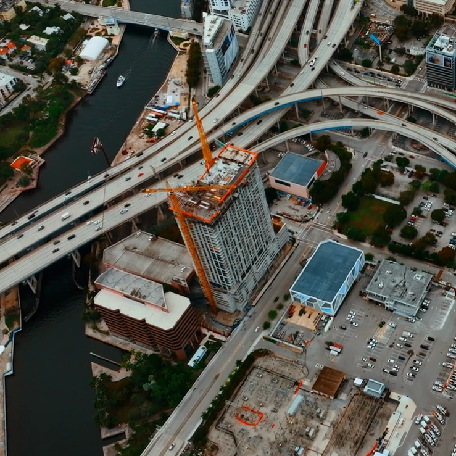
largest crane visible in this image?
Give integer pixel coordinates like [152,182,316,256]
[145,184,236,311]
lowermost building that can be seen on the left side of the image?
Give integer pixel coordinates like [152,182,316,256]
[94,286,201,359]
